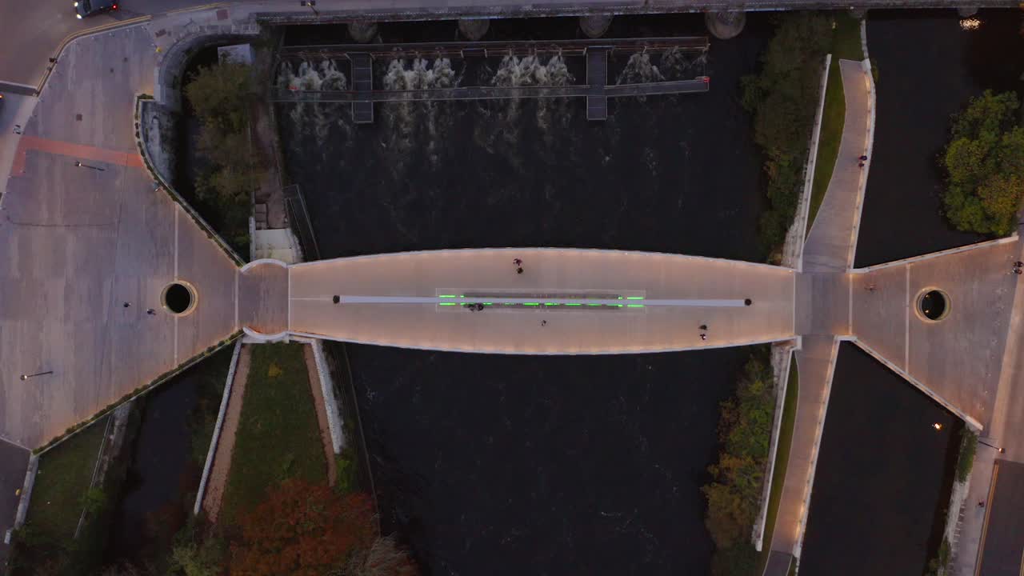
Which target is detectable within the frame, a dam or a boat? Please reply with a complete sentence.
There is a dam in the scene.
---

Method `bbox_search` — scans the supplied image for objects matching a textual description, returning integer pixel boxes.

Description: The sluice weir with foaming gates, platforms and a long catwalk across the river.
[267,36,712,126]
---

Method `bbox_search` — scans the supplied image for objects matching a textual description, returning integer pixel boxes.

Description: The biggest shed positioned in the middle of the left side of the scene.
[257,228,293,262]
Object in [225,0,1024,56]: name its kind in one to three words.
bridge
